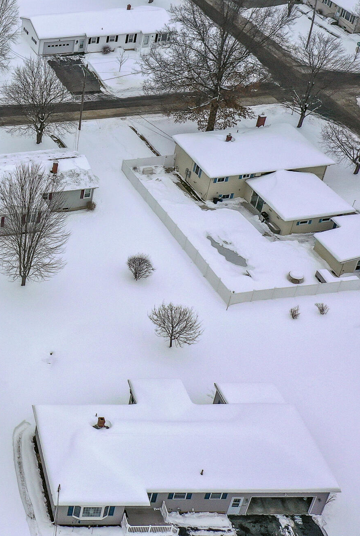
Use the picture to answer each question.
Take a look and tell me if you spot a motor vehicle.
No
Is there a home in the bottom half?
Yes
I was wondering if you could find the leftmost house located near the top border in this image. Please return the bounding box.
[19,4,179,56]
